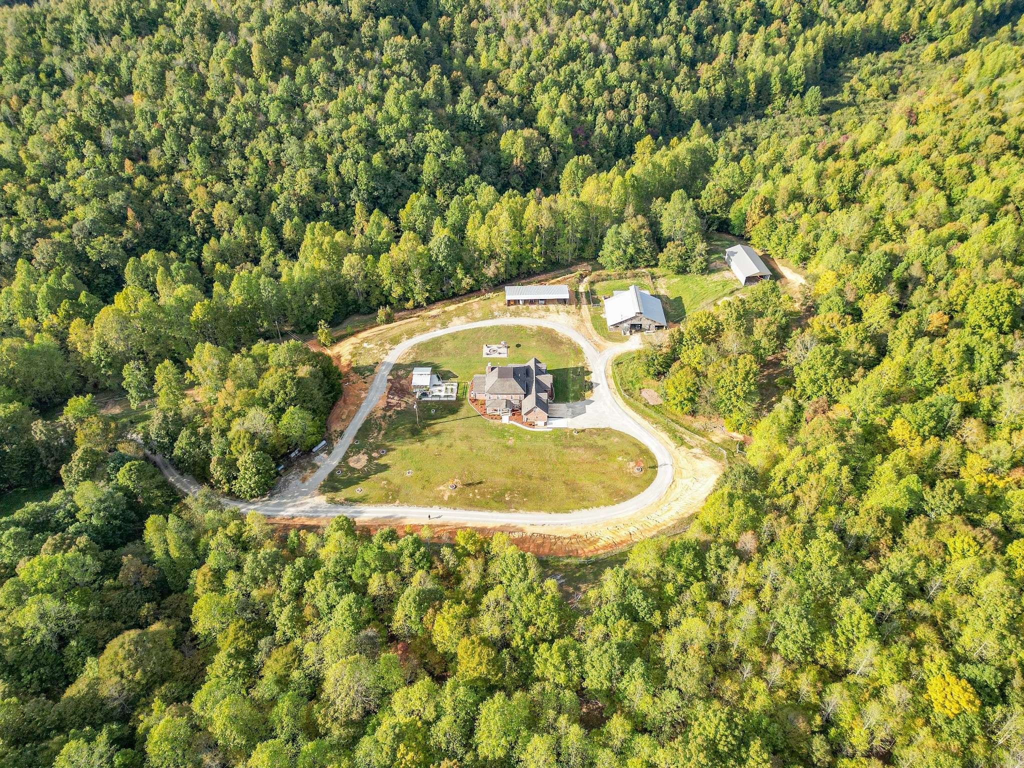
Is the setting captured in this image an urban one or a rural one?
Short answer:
rural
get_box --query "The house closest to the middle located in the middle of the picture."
[472,357,553,426]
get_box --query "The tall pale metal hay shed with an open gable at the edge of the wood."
[727,245,774,286]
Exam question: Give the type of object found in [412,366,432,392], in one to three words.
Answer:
building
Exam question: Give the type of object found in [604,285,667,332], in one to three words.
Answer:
barn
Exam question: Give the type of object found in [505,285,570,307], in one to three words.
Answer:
shed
